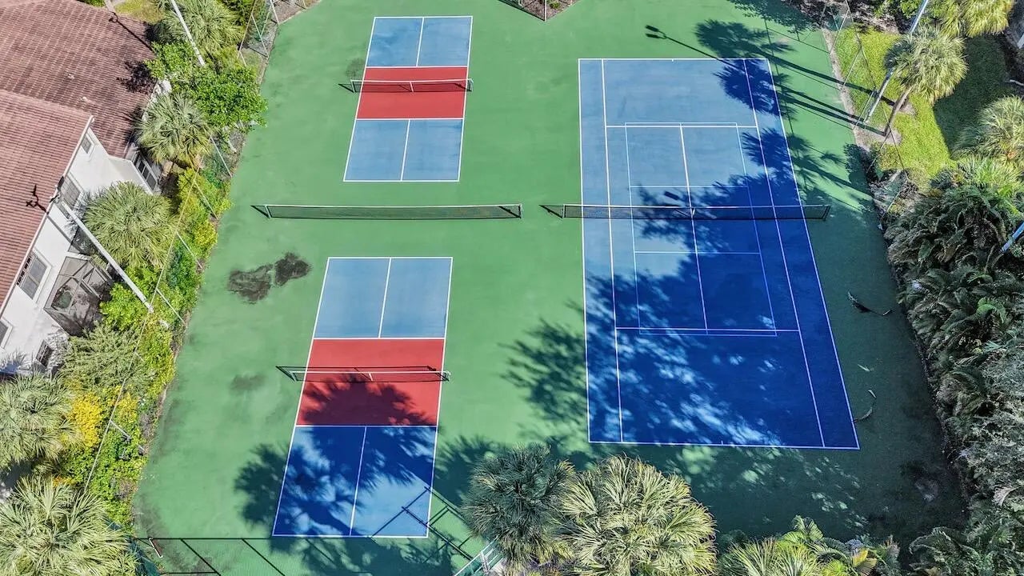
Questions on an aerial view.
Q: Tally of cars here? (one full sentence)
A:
The photo contains no cars.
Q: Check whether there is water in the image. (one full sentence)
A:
No, water can't be seen anywhere here.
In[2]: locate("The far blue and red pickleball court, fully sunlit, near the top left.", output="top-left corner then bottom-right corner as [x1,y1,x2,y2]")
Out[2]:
[344,17,472,181]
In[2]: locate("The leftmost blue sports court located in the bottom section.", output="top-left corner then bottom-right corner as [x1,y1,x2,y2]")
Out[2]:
[274,257,452,538]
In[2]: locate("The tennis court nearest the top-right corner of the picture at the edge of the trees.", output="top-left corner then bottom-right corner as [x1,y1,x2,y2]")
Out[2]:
[579,59,857,447]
